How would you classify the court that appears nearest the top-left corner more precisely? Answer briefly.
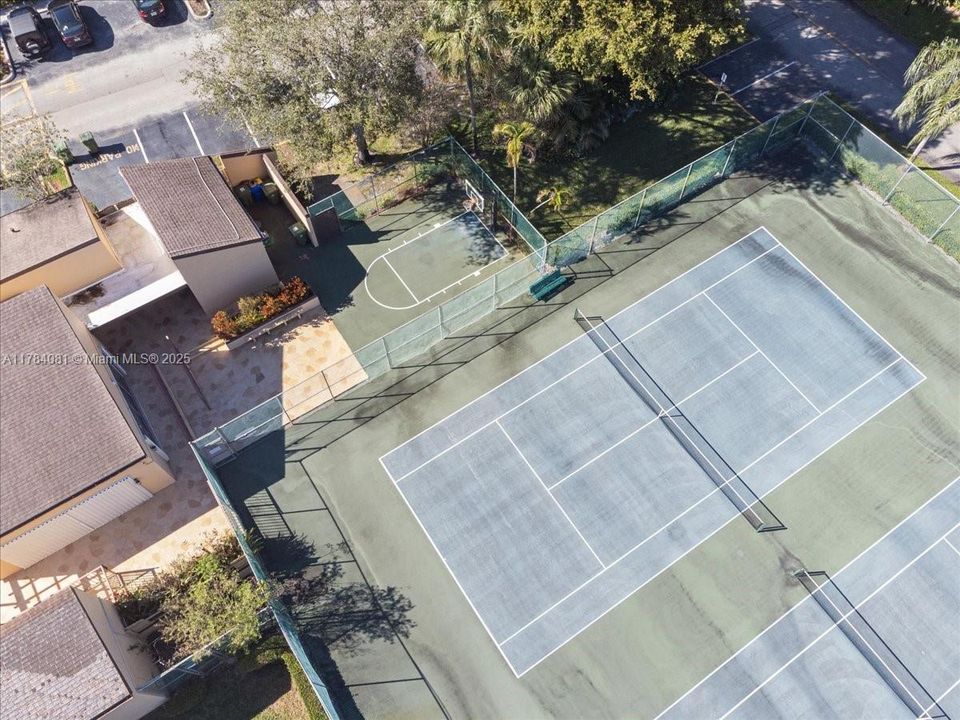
basketball court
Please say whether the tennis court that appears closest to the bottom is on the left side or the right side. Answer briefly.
right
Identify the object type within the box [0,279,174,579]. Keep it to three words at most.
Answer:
building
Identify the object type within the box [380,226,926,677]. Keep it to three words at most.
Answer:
tennis court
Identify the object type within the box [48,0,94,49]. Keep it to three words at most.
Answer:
car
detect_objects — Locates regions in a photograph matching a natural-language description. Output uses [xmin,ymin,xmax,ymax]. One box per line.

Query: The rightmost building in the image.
[116,152,277,316]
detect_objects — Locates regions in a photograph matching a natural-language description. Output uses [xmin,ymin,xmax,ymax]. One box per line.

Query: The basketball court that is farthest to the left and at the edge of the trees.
[300,180,541,381]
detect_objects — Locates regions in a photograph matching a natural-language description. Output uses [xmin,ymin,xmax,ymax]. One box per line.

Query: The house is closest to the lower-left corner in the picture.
[0,590,168,720]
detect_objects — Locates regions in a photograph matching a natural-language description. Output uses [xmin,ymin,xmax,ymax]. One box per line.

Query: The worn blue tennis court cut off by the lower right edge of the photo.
[654,476,960,720]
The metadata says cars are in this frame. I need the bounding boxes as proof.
[4,3,51,54]
[134,0,169,20]
[48,0,94,49]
